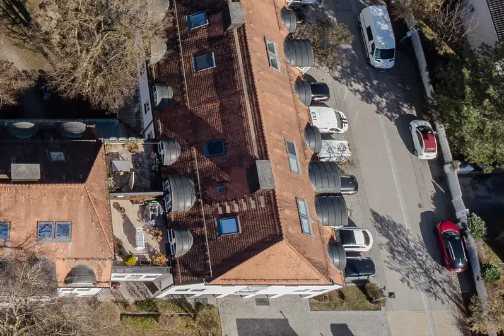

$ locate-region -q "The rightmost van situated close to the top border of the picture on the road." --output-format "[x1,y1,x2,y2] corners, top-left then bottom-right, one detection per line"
[356,4,393,75]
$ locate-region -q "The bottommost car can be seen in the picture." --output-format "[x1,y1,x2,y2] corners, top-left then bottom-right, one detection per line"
[344,258,388,285]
